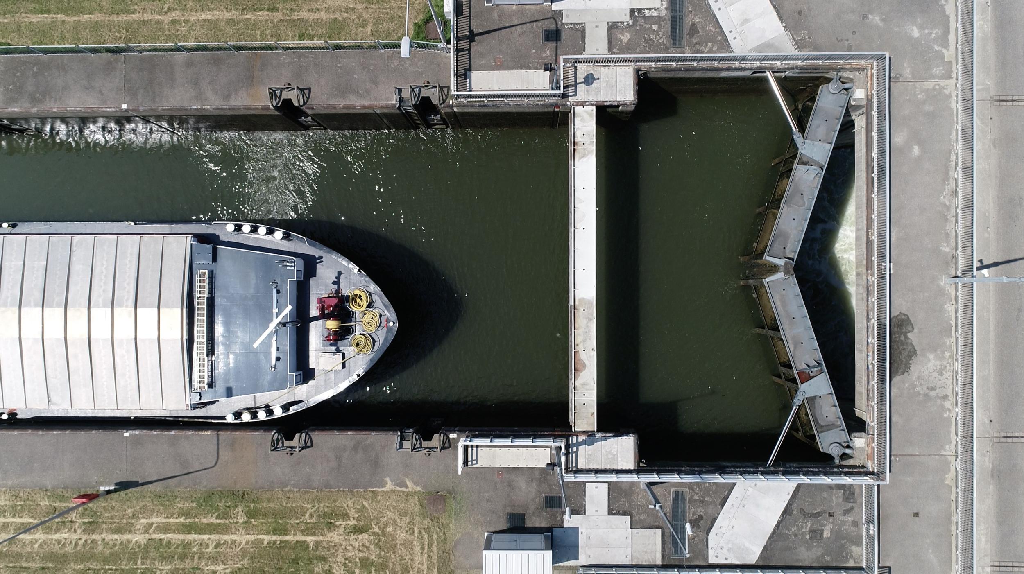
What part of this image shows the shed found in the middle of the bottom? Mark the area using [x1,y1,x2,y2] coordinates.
[480,533,554,574]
